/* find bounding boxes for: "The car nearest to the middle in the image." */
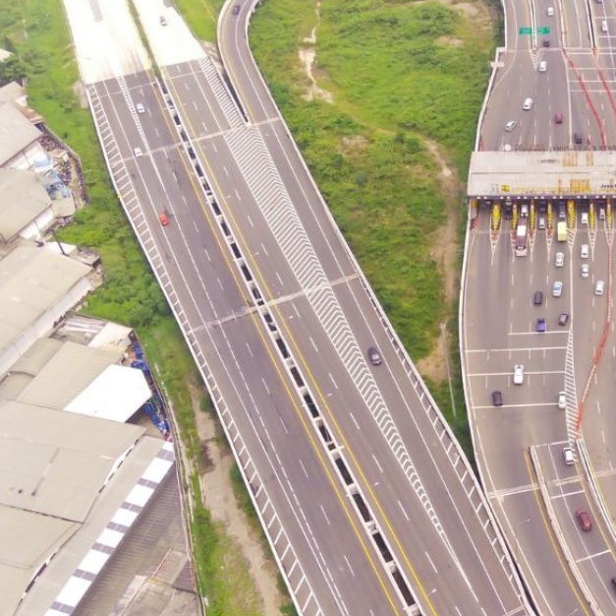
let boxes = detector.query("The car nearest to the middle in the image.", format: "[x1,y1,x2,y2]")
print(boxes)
[367,347,380,362]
